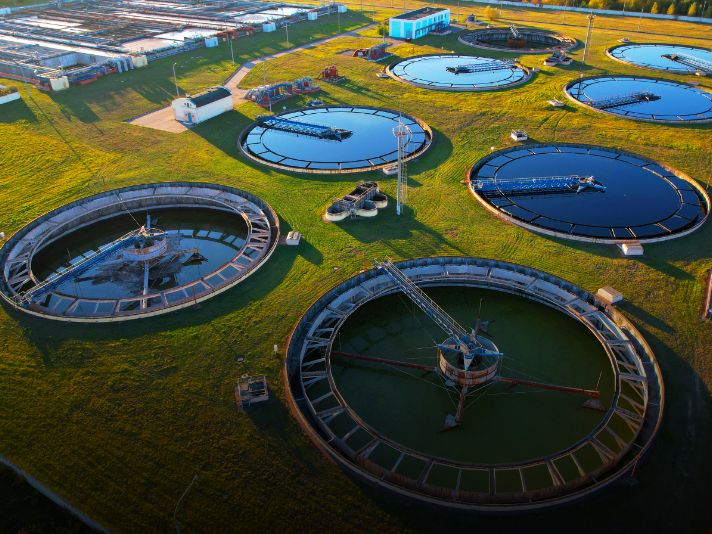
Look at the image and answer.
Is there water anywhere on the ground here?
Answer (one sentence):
Yes, the picture does contain water.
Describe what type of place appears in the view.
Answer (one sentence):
It's an industrial area.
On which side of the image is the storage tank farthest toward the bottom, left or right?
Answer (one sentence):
The storage tank farthest toward the bottom is on the right side of the image.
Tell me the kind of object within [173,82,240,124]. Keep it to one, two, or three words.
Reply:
shed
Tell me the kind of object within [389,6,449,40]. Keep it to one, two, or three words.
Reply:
building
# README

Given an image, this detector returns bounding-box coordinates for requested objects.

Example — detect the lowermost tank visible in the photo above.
[286,257,665,512]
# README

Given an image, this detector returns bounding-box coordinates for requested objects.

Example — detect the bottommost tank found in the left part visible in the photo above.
[0,182,282,323]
